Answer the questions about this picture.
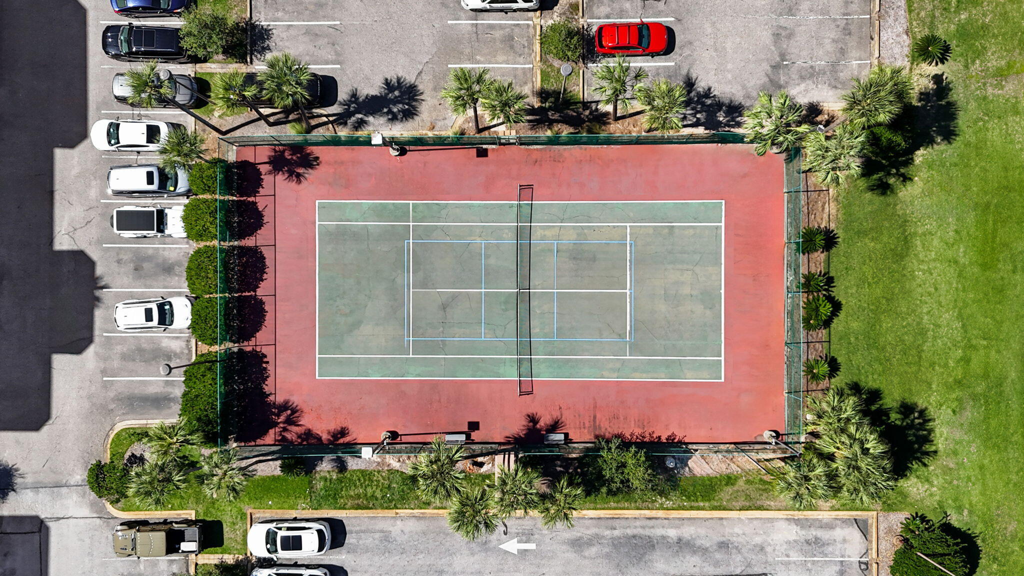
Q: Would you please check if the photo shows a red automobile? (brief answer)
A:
Yes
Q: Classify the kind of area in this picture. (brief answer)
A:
sports ground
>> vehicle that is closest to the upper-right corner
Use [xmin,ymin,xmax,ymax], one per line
[593,15,669,55]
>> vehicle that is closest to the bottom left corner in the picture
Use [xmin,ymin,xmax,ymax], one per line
[113,521,206,561]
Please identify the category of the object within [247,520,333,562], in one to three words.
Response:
car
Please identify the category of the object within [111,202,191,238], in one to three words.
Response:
car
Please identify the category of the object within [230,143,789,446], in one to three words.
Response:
tennis court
